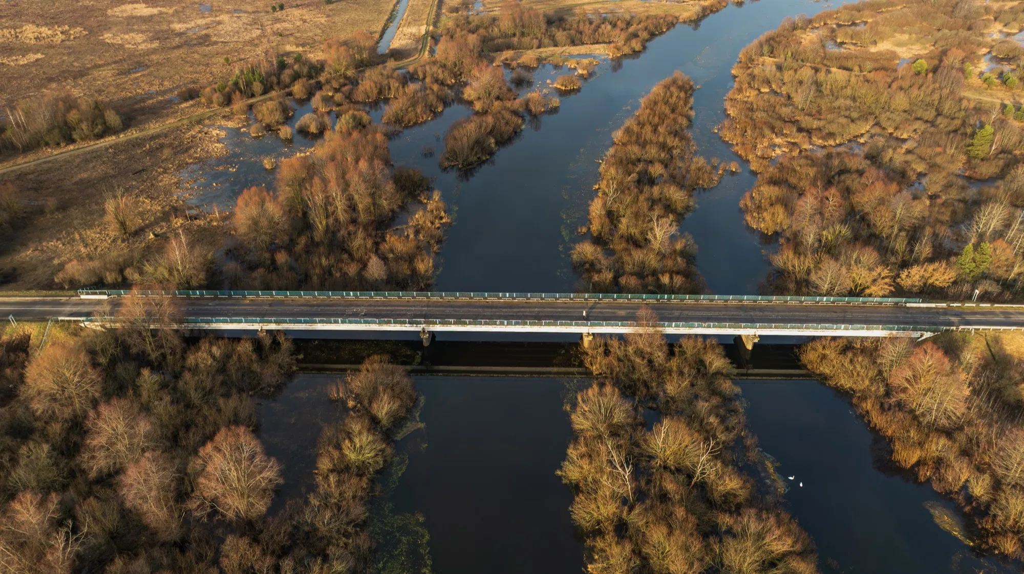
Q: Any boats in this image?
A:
No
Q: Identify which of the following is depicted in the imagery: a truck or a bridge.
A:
bridge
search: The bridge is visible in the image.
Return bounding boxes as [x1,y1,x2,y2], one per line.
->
[63,294,955,351]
